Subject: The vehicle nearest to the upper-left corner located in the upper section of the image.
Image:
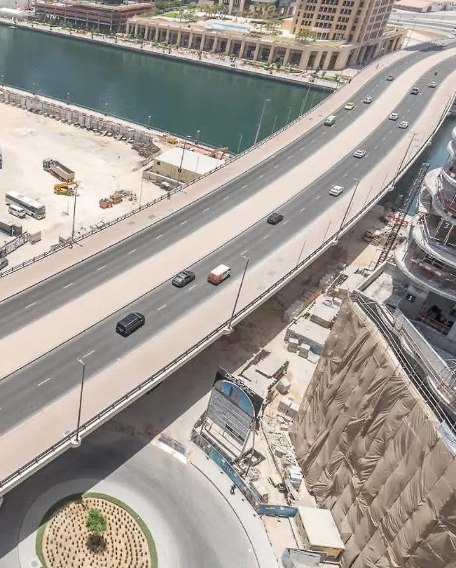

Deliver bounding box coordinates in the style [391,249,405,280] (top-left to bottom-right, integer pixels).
[43,158,73,178]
